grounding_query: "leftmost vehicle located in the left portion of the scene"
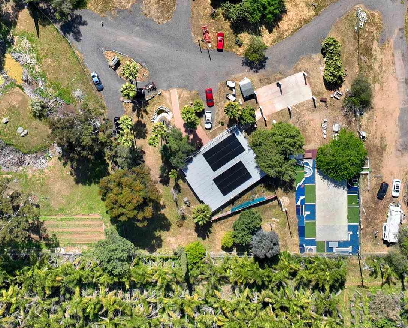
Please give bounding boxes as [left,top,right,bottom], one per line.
[90,71,105,91]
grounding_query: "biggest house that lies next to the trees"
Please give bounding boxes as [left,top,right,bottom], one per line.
[183,125,267,211]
